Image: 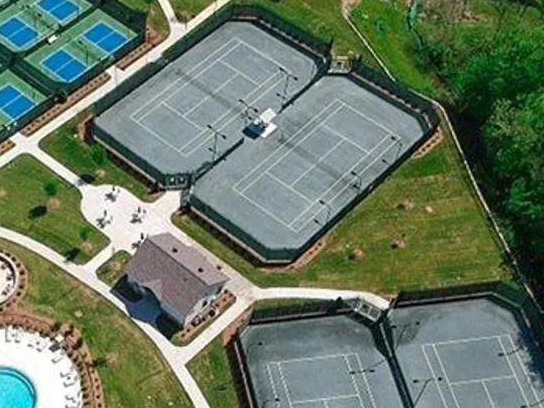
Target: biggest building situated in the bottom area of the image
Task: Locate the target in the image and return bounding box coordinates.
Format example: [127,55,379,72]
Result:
[124,233,230,329]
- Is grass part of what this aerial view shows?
Yes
